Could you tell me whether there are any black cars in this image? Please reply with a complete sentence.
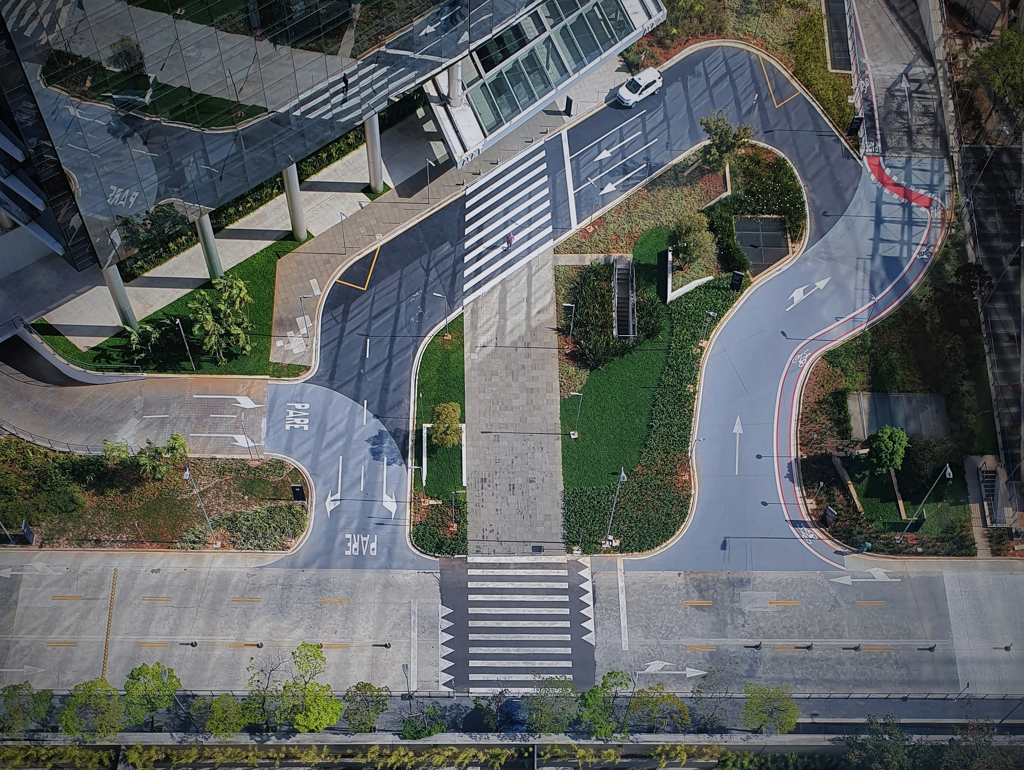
No, the picture doesn't show any black car.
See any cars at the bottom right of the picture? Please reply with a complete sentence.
No, looking at the bottom right of the picture, there is no car.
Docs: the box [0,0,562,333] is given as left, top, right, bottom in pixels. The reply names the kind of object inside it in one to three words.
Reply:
building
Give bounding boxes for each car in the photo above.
[617,66,666,108]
